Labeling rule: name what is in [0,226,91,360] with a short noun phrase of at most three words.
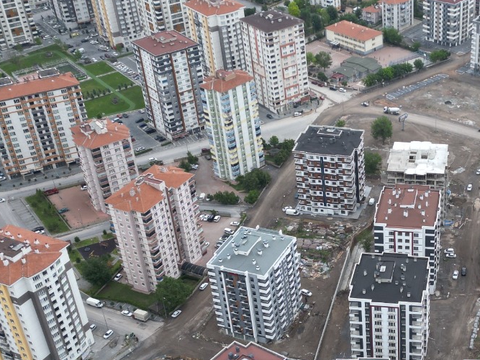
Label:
building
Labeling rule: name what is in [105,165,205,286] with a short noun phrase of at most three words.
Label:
building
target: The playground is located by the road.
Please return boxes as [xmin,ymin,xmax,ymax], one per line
[74,235,116,259]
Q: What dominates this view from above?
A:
buildings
